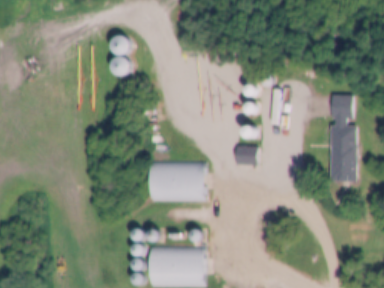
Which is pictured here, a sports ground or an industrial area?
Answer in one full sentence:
It's an industrial area.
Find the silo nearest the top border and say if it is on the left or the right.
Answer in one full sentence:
The silo nearest the top border is on the left side of the image.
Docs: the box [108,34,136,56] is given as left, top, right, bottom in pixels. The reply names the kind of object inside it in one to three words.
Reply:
silo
